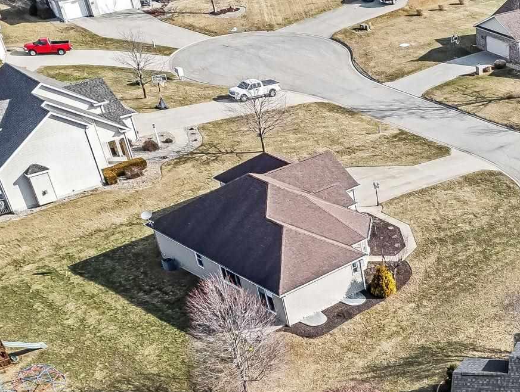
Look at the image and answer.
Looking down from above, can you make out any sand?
No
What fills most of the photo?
grass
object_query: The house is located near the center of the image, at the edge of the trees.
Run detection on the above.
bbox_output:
[136,144,388,323]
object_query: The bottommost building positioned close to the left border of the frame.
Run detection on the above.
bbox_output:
[0,58,137,213]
